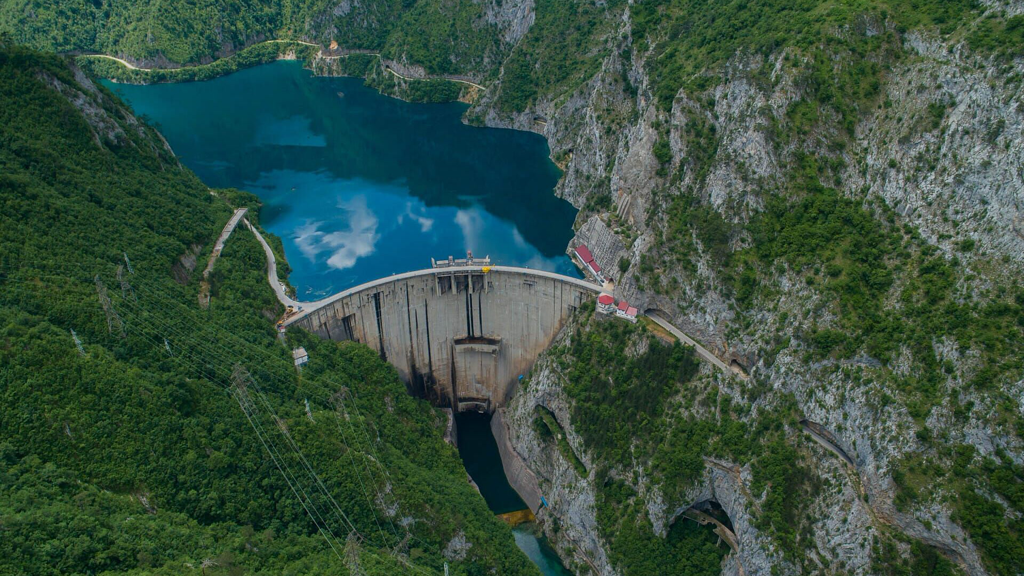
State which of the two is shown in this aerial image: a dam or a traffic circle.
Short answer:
dam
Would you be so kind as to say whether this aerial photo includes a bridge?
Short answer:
Yes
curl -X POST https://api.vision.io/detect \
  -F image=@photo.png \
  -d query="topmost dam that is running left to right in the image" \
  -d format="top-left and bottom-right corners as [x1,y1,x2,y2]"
[281,264,612,415]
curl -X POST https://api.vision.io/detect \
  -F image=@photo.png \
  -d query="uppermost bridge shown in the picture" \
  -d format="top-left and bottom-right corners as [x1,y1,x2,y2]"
[211,207,254,256]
